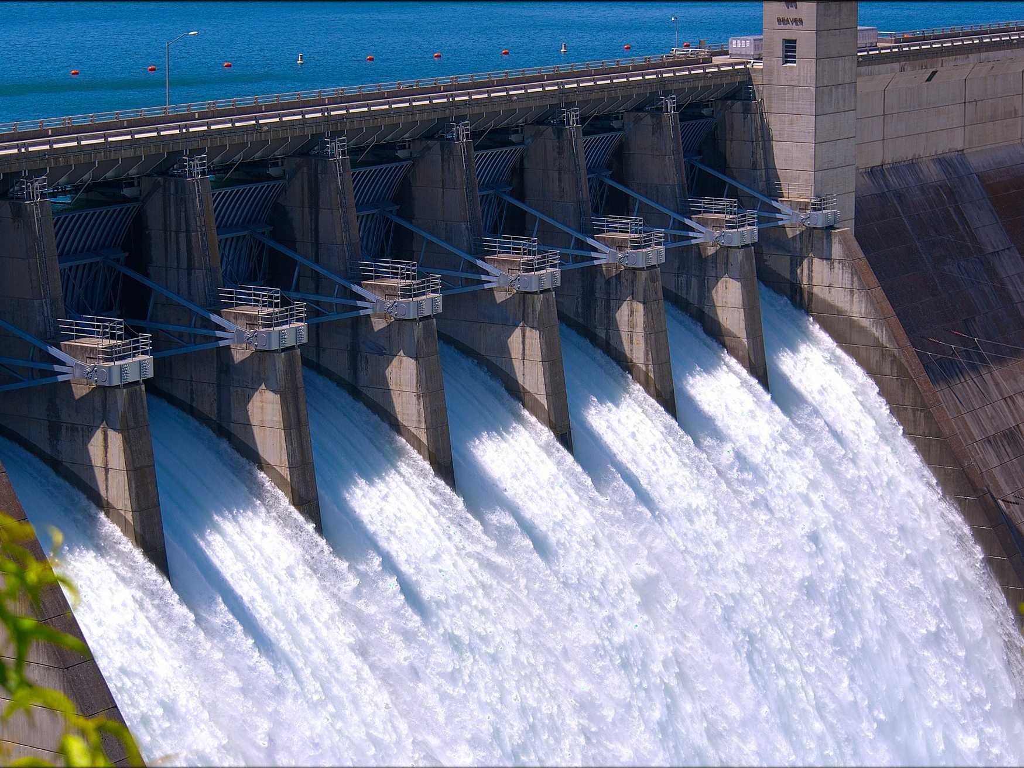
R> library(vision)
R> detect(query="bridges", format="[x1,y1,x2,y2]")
[0,53,751,205]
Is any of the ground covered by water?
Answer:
Yes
